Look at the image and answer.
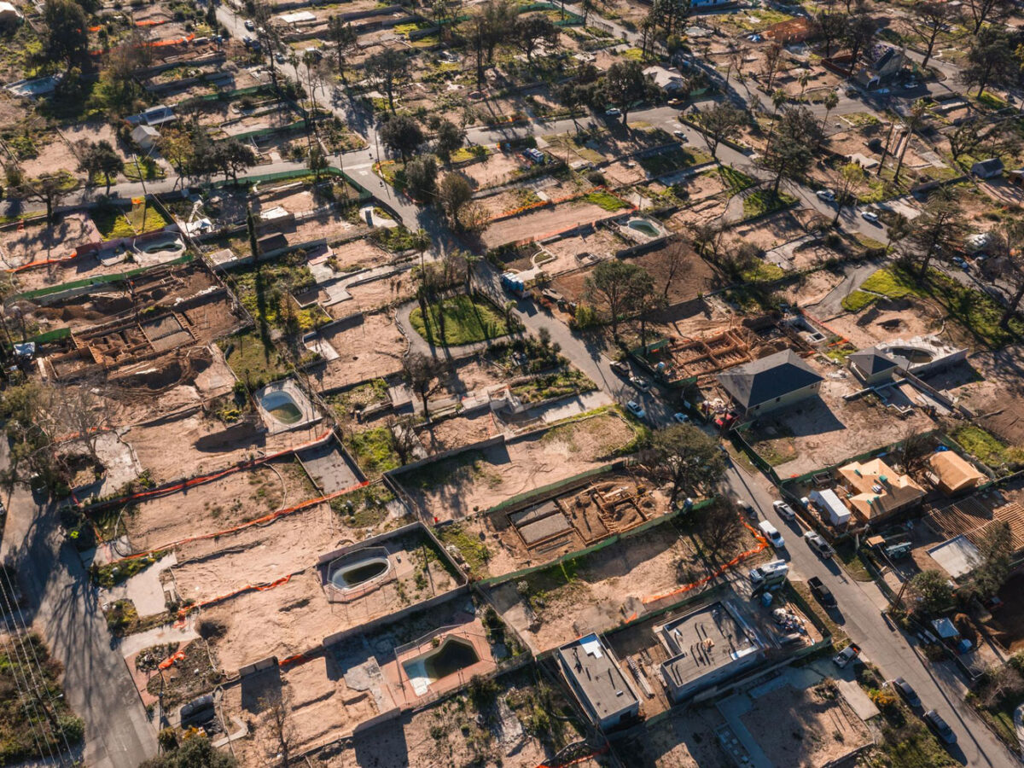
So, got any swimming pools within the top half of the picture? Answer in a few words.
Yes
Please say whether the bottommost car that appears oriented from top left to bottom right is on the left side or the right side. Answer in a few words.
right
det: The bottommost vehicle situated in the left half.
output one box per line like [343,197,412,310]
[174,693,220,722]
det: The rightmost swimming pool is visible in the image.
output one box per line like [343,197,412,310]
[876,341,950,372]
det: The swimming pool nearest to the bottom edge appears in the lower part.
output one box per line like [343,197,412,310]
[383,624,495,703]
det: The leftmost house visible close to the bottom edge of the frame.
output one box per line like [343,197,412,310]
[558,633,639,737]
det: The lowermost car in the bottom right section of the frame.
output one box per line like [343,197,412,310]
[921,704,965,750]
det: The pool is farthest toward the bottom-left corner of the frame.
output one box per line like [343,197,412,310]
[322,546,399,604]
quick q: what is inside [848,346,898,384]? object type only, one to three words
building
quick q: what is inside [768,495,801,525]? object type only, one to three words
car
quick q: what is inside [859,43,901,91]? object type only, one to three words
house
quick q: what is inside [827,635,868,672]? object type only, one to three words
truck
